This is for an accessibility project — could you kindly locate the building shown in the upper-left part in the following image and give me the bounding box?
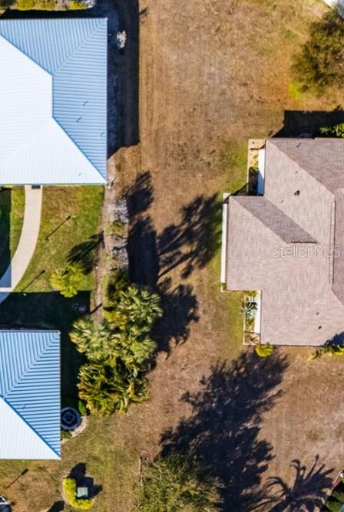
[0,17,108,185]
